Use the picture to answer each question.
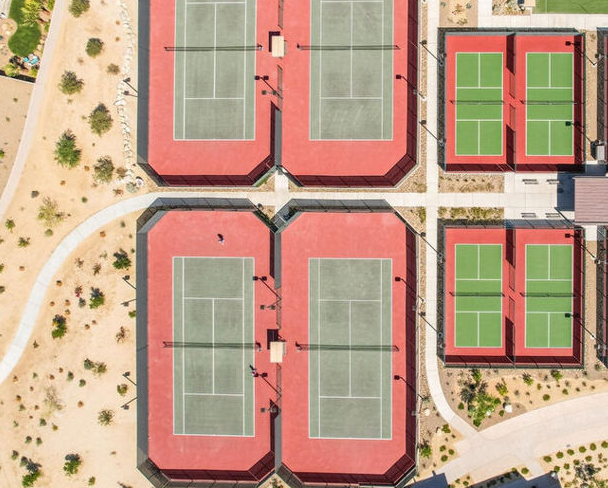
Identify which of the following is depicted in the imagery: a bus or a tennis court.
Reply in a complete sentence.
Visible in the photo is a tennis court.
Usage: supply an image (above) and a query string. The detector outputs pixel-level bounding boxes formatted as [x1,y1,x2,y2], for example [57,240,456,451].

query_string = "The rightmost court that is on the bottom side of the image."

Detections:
[514,231,582,364]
